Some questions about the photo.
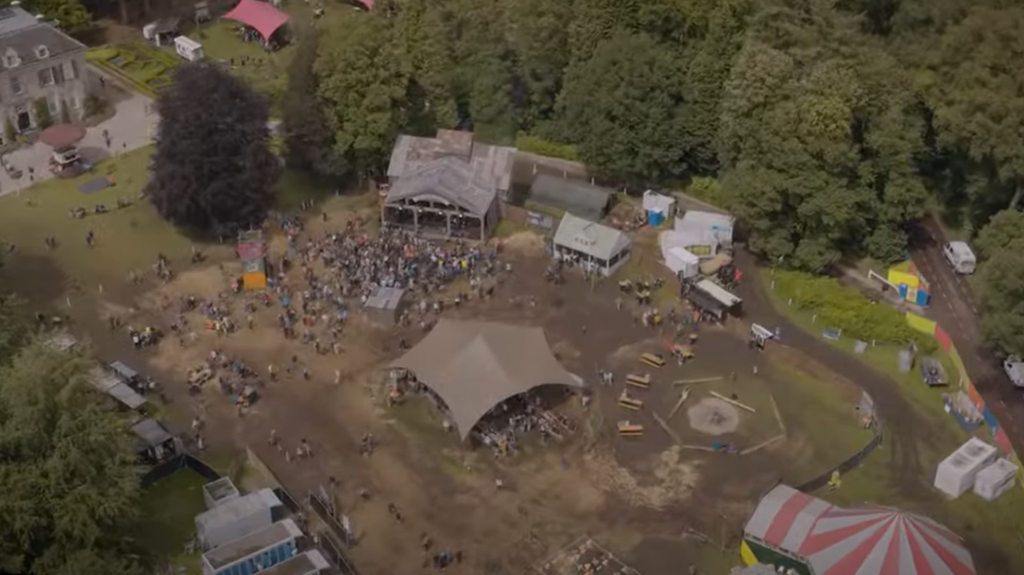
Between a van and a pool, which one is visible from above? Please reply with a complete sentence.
It is a van that can be seen here.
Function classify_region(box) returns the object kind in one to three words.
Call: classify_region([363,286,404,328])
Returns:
shed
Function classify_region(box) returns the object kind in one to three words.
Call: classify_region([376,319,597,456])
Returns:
tent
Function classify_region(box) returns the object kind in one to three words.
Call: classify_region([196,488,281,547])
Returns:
building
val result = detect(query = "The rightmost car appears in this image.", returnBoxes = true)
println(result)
[1002,361,1024,386]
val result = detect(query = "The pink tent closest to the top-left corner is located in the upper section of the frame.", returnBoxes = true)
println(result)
[219,0,292,55]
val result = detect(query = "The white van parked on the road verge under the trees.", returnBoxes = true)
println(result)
[942,244,976,274]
